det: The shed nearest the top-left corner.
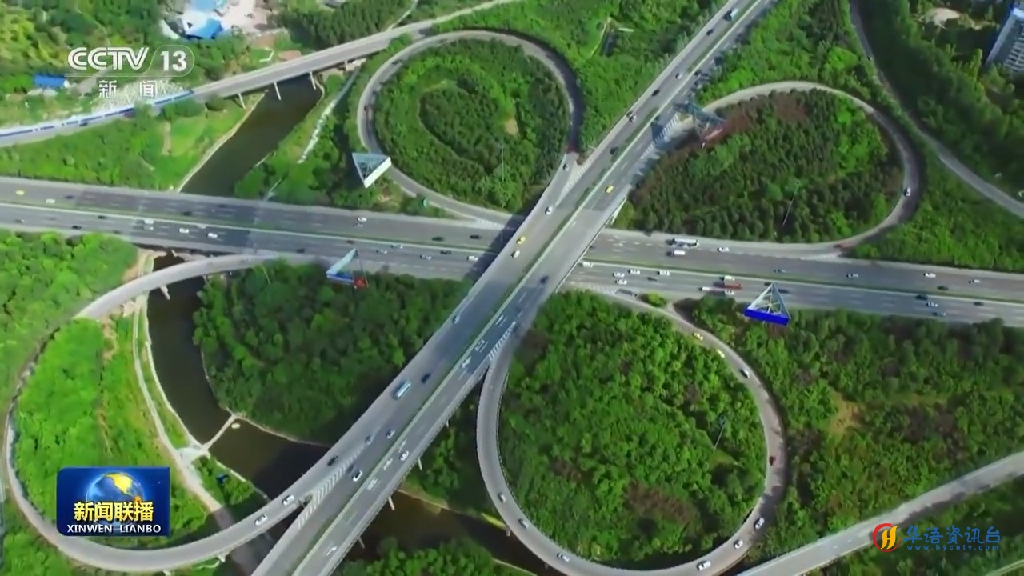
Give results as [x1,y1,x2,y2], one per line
[31,77,70,91]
